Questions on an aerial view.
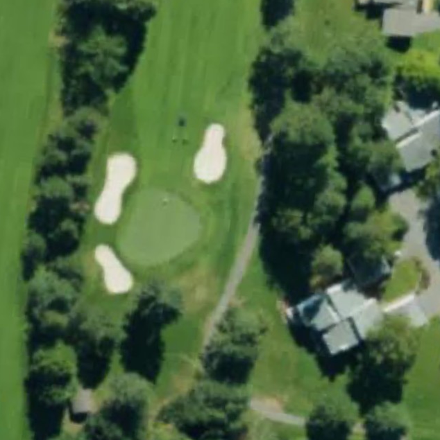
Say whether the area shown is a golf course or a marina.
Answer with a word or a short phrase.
golf course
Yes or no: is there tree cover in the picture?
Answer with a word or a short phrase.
Yes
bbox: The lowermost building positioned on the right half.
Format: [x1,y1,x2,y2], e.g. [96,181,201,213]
[296,285,385,355]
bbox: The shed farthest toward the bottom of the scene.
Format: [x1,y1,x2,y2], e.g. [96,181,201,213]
[75,391,94,414]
